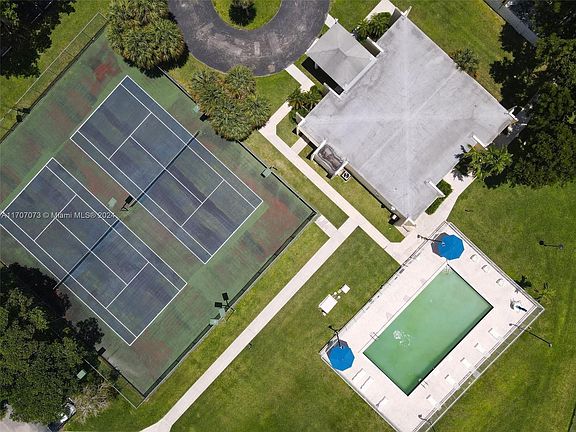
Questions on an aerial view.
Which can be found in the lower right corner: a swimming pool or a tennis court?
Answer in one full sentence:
The one visible in the lower right corner is a swimming pool.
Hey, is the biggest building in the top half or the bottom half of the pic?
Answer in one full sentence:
The top half of the photo is where the biggest building is.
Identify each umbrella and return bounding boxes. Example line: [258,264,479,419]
[327,341,354,369]
[437,233,464,260]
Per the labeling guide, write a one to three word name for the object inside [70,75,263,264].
tennis court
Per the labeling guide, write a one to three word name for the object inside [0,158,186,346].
tennis court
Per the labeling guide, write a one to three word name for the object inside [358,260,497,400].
swimming pool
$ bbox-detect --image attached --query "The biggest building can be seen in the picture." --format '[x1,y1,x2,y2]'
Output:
[295,6,519,227]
